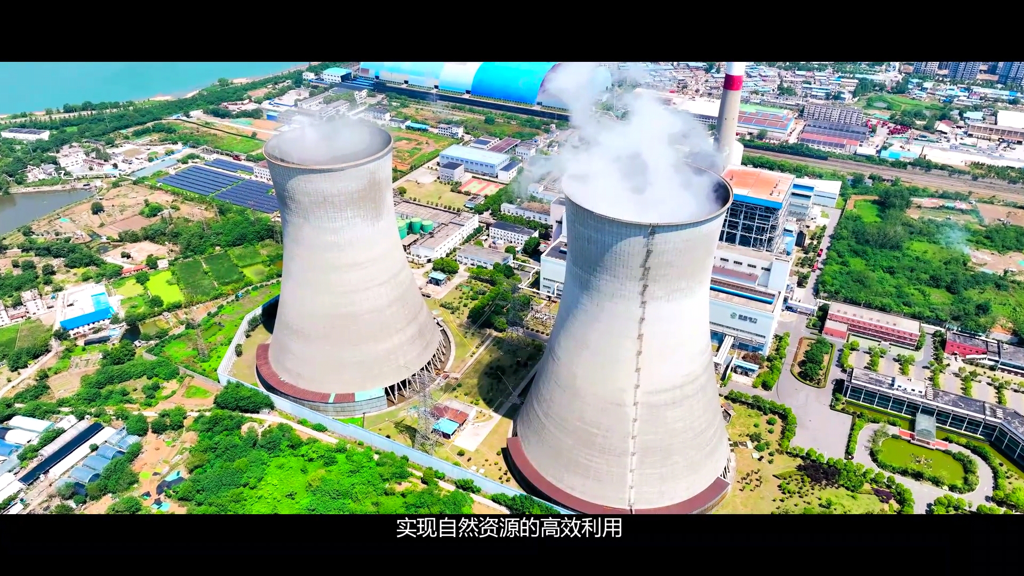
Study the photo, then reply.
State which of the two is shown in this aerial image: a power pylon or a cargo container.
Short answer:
power pylon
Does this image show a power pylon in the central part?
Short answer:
Yes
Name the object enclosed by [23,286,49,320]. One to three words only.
house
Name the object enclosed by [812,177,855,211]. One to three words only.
building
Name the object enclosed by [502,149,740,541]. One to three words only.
cooling tower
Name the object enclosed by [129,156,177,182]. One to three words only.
shed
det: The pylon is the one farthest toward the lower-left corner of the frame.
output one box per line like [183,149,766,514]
[180,306,217,365]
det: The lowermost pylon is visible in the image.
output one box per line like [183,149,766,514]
[403,377,444,455]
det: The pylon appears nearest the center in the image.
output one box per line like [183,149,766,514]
[500,292,526,352]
